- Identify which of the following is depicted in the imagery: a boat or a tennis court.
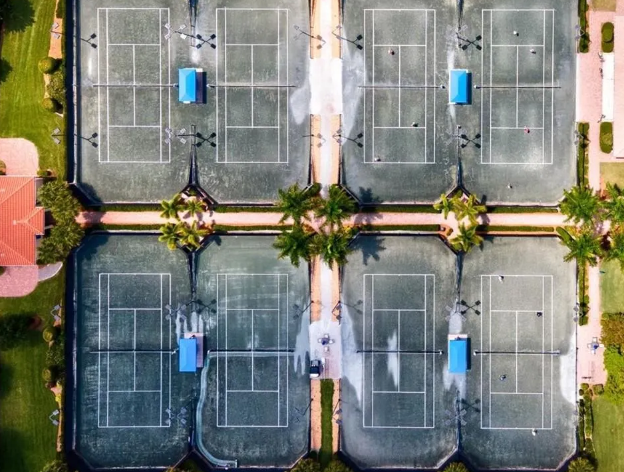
tennis court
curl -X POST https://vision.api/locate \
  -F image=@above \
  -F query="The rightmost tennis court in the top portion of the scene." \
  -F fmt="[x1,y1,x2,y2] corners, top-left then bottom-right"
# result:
[460,0,577,204]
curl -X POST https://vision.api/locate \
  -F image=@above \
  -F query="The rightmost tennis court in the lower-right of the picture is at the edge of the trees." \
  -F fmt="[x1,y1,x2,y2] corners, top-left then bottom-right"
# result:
[460,237,577,466]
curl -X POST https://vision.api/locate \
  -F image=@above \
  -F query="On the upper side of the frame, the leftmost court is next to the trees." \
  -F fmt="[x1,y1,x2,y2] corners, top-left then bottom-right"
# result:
[76,0,192,203]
